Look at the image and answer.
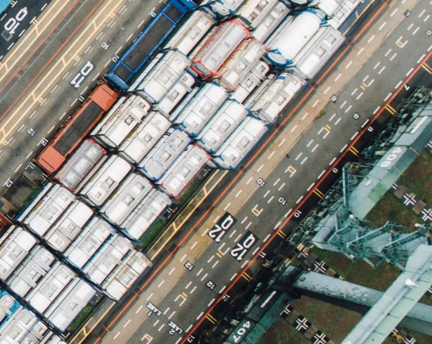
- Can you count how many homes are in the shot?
0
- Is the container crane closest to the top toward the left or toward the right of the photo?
right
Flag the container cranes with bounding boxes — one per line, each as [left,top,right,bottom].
[286,65,432,272]
[191,252,432,344]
